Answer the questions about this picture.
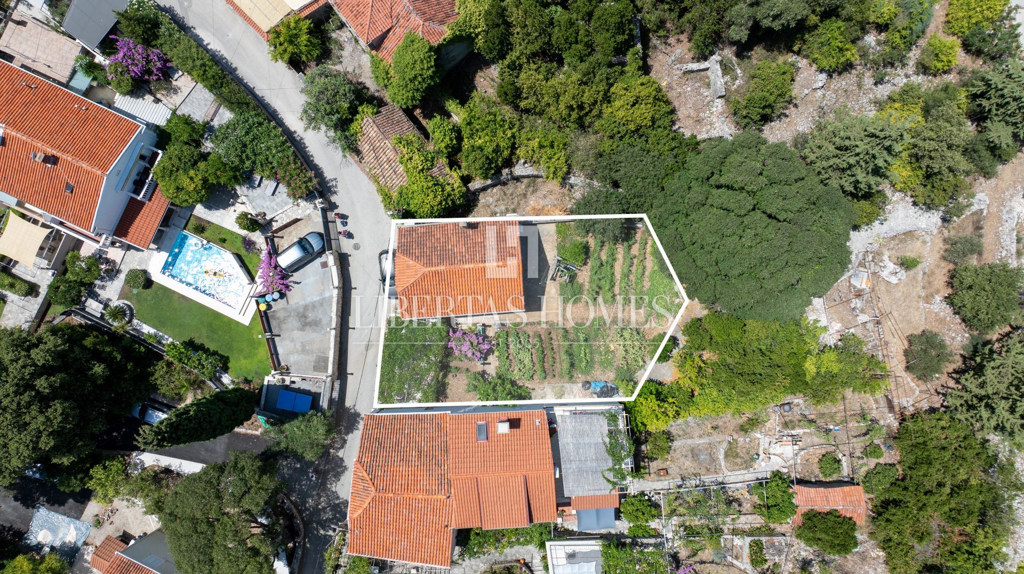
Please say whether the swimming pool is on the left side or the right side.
left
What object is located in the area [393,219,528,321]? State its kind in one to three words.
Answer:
house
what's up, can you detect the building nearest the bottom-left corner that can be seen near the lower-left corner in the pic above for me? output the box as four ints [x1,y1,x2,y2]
[90,529,181,574]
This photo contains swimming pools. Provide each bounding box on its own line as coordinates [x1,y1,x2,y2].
[159,229,256,316]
